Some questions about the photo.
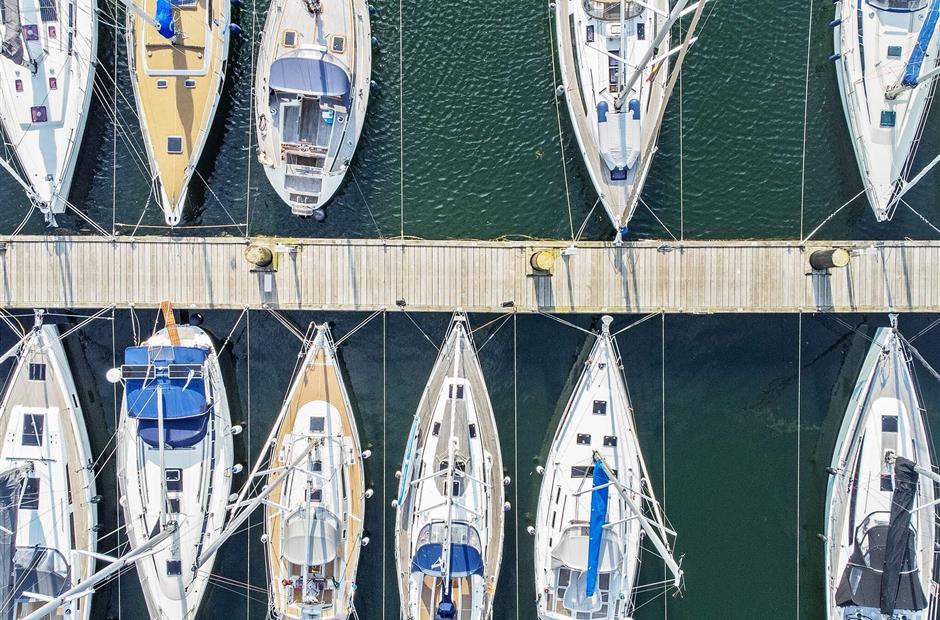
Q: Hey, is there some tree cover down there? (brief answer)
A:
No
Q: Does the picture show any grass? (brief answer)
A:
No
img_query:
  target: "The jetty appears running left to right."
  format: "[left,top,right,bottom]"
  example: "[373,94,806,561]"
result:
[0,236,940,313]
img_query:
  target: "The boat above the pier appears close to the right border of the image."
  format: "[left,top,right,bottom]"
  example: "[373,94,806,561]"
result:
[836,0,940,224]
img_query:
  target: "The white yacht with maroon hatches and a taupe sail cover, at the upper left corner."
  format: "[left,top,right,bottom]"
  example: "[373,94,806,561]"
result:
[0,0,96,228]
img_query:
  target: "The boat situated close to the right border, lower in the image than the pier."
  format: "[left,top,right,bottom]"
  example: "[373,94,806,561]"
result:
[824,312,940,620]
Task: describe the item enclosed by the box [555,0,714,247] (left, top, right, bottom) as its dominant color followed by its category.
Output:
white boat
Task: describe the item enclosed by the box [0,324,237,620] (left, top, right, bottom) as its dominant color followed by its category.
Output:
white boat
